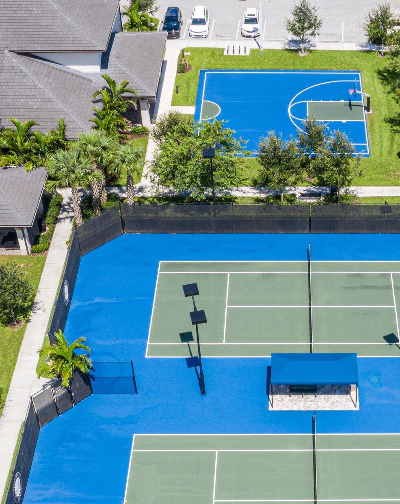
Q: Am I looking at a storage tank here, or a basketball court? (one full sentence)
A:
The image shows a basketball court.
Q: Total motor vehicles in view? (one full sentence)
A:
The photo contains 3 motor vehicles.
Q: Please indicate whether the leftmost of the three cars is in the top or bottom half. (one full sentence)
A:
The leftmost of the three cars is in the top half of the image.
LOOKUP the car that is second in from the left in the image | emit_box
[187,2,210,34]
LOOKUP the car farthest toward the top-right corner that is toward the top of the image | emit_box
[239,10,260,34]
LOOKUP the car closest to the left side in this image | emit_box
[160,5,181,34]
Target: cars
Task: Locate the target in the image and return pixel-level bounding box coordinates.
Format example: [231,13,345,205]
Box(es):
[239,10,260,34]
[160,5,181,34]
[187,2,210,34]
